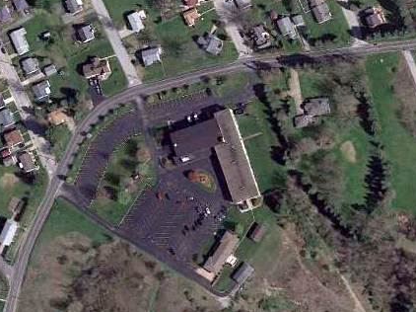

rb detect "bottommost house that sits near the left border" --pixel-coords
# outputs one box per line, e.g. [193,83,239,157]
[0,217,19,247]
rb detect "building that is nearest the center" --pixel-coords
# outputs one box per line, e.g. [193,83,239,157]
[169,108,262,212]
